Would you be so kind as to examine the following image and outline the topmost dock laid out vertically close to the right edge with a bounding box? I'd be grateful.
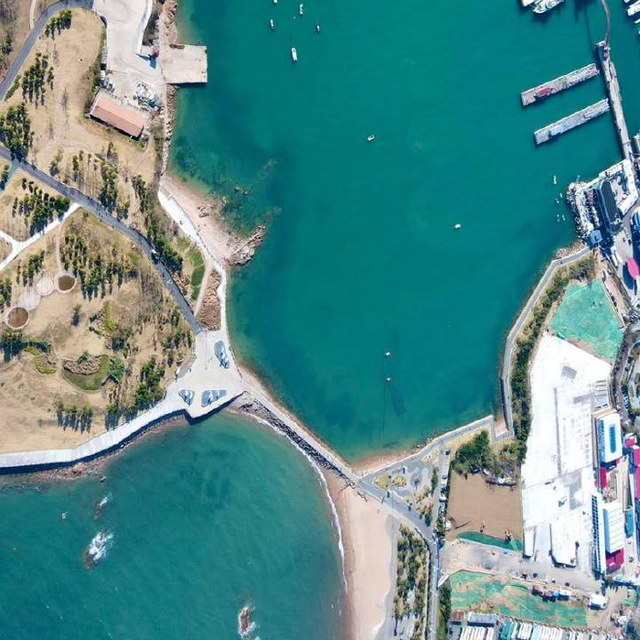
[598,42,638,162]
